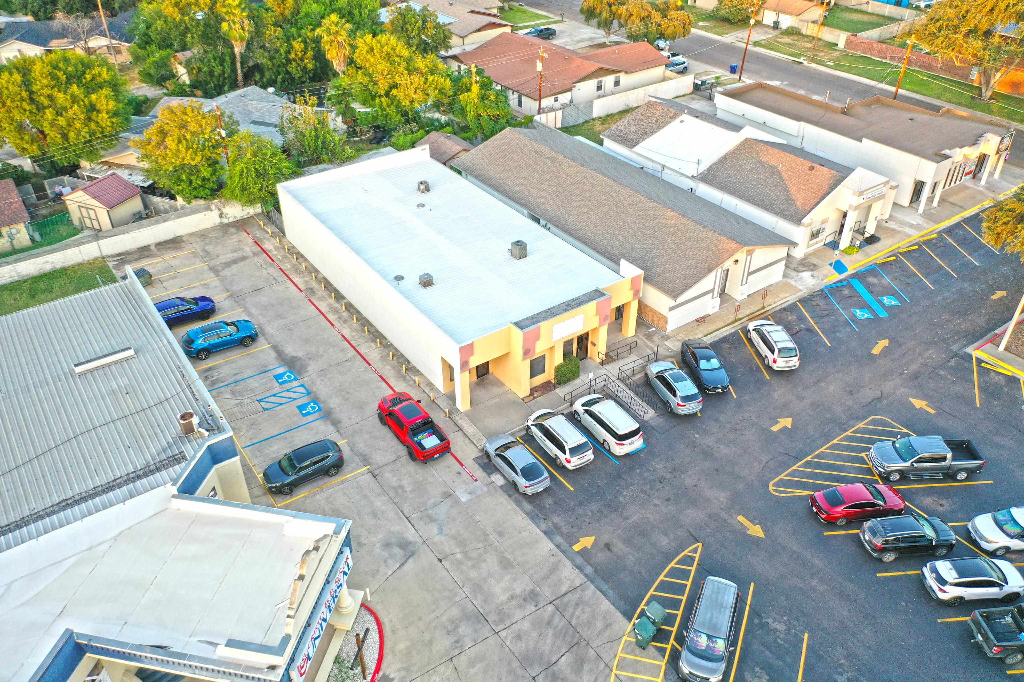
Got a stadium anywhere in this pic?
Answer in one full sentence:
No, no stadium is visible in the view.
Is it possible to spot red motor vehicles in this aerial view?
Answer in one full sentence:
Yes, the picture does show a red motor vehicle.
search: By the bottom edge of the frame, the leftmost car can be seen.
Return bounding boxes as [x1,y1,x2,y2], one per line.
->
[671,575,738,682]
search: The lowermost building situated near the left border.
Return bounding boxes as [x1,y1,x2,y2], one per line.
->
[0,265,368,682]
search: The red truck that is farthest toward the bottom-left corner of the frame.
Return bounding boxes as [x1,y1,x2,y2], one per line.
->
[373,389,455,466]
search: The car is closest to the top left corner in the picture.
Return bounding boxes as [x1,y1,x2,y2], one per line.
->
[155,287,234,326]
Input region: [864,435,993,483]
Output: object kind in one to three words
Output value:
truck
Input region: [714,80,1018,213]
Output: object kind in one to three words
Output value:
building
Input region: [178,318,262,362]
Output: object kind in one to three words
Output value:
car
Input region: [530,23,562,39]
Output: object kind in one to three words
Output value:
vehicle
